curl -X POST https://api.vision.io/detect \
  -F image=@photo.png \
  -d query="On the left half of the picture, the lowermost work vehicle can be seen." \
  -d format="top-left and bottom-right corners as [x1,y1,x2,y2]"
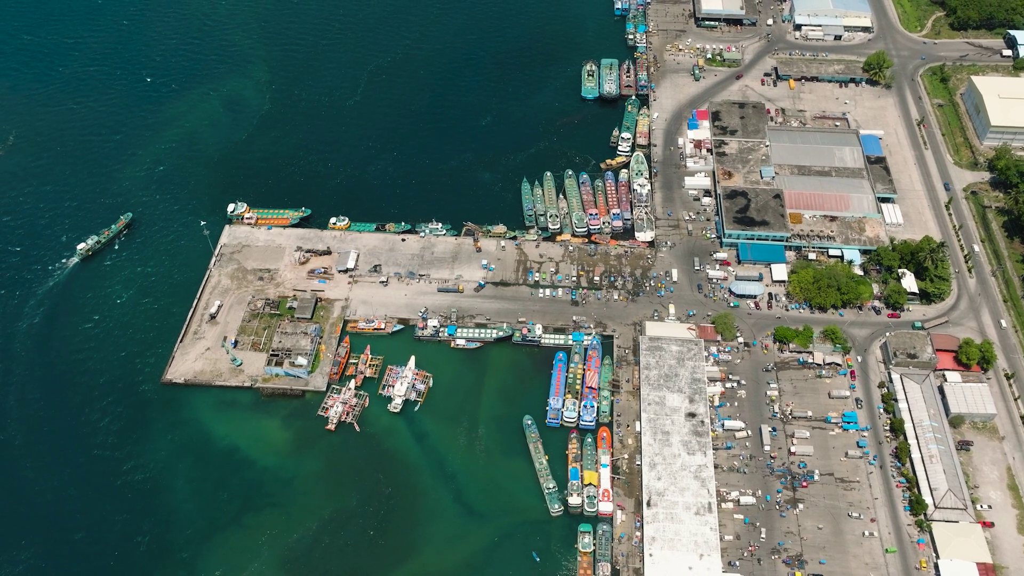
[224,341,241,371]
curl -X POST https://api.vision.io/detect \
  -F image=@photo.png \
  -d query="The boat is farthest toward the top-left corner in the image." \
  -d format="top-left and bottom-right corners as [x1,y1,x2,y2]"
[71,211,133,266]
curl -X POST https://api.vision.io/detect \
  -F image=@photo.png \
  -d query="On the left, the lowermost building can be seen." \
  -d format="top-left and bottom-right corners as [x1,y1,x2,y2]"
[264,320,322,380]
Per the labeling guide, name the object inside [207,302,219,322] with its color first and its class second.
white vehicle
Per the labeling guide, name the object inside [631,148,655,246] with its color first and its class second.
white vessel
